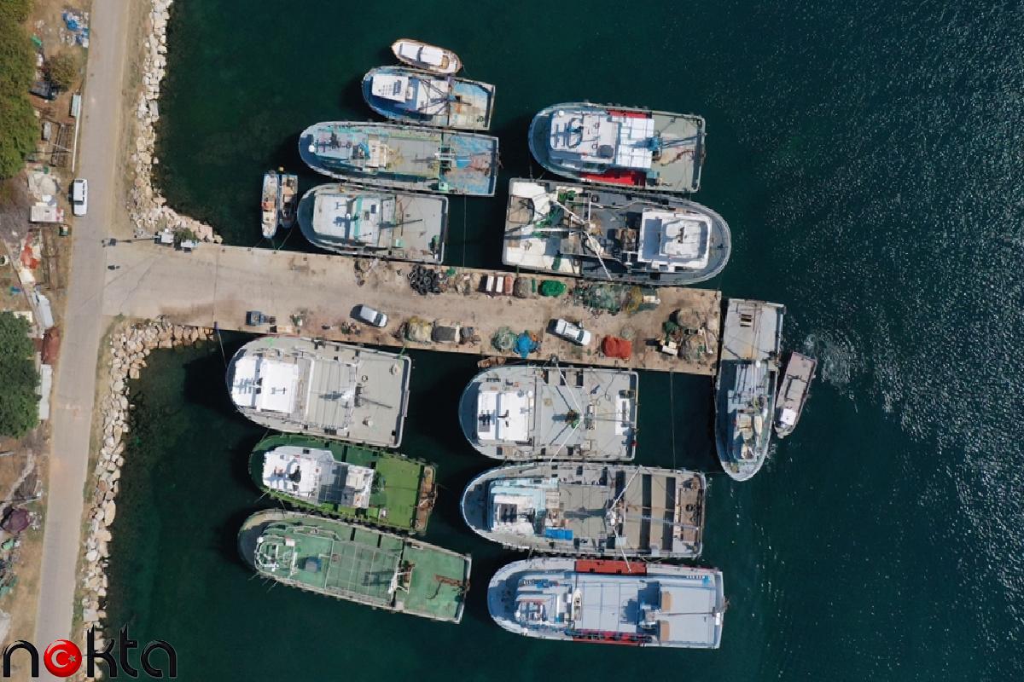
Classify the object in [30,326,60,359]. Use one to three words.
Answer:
shed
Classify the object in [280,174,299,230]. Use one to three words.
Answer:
boat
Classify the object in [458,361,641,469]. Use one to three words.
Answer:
boat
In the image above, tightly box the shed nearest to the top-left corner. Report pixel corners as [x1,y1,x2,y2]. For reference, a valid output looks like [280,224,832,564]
[20,203,60,222]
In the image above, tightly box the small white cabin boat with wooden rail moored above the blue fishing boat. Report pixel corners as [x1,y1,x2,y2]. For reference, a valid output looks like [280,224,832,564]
[391,39,463,75]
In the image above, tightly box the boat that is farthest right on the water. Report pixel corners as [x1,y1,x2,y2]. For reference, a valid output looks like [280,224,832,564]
[773,351,818,439]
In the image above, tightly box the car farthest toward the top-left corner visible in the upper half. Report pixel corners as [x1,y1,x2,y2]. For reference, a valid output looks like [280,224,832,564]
[71,178,91,216]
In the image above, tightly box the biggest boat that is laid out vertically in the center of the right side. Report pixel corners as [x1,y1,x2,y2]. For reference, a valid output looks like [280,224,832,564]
[712,299,787,482]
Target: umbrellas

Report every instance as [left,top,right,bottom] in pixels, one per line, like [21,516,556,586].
[0,511,21,541]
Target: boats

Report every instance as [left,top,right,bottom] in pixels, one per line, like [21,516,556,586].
[361,64,496,134]
[458,361,641,469]
[237,509,475,624]
[486,553,725,649]
[391,39,463,75]
[527,103,705,195]
[262,171,281,240]
[773,351,818,439]
[298,120,499,198]
[712,299,787,482]
[502,178,732,285]
[280,174,299,230]
[297,183,450,264]
[461,455,705,572]
[247,434,438,533]
[225,338,413,447]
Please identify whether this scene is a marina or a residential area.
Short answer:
marina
